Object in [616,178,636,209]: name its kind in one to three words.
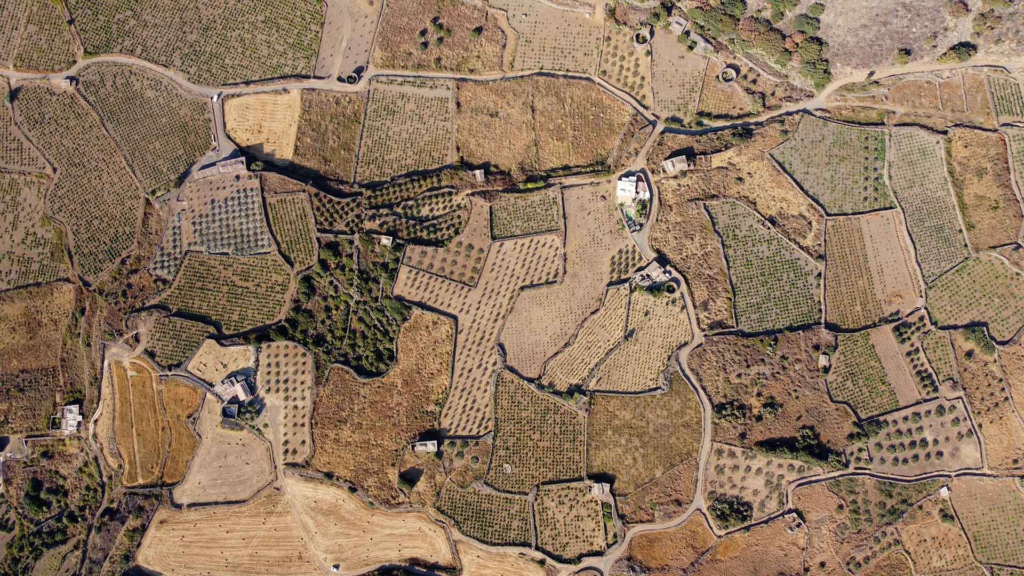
house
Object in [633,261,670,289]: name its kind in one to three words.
house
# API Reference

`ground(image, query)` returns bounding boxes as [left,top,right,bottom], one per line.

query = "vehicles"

[329,565,338,572]
[211,93,218,102]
